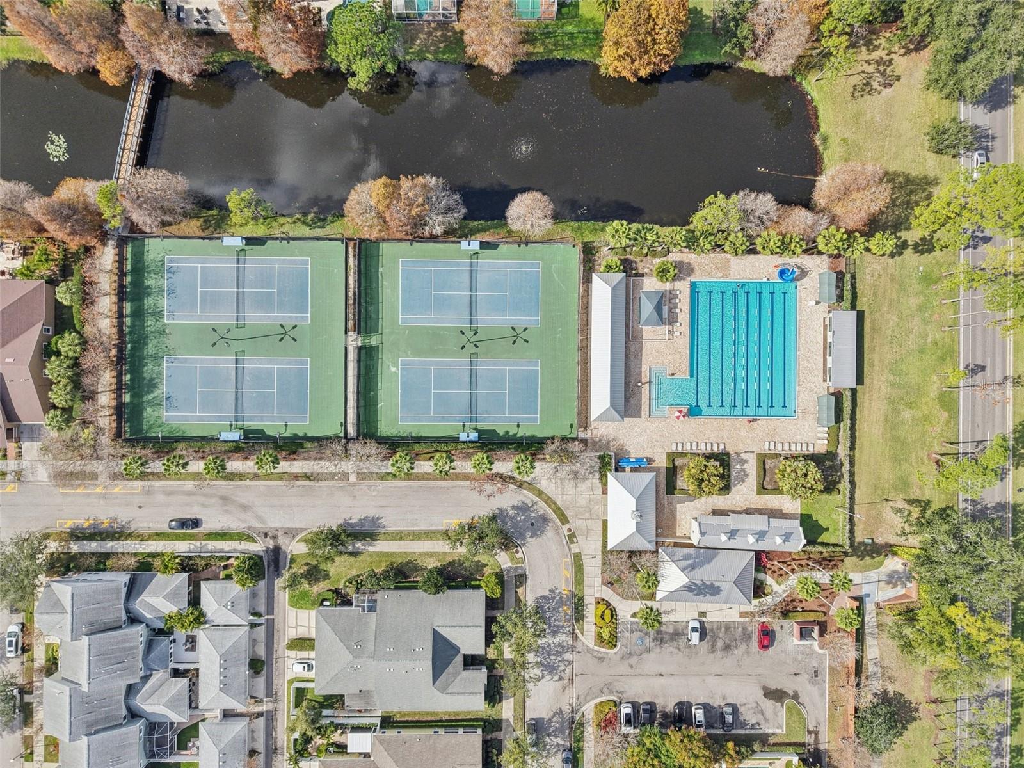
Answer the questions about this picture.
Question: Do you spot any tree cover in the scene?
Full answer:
Yes, the picture does contain tree cover.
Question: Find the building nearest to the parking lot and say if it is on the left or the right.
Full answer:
You can find the building nearest to the parking lot on the right side of the picture.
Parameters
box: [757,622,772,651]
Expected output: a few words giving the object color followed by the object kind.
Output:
red car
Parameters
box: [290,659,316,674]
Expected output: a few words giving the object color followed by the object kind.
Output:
white car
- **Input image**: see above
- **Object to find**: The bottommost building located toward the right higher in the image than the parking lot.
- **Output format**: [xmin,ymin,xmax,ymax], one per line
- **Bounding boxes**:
[656,547,755,605]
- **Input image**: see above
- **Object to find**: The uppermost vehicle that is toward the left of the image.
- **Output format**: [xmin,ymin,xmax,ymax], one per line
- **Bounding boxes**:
[169,517,200,531]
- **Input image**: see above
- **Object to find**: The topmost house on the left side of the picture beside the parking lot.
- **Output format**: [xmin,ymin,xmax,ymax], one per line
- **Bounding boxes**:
[316,587,485,710]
